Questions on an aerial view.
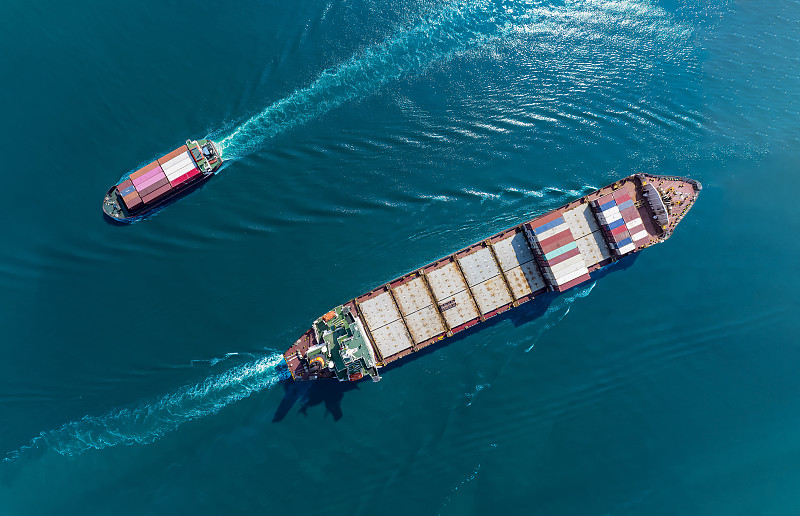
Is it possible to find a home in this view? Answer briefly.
No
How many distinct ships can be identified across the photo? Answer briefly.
2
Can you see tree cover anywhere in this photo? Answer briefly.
No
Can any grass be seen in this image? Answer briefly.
No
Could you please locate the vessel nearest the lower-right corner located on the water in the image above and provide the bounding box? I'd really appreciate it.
[283,174,702,384]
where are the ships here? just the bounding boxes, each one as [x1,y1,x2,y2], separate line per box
[102,137,224,217]
[283,174,702,384]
